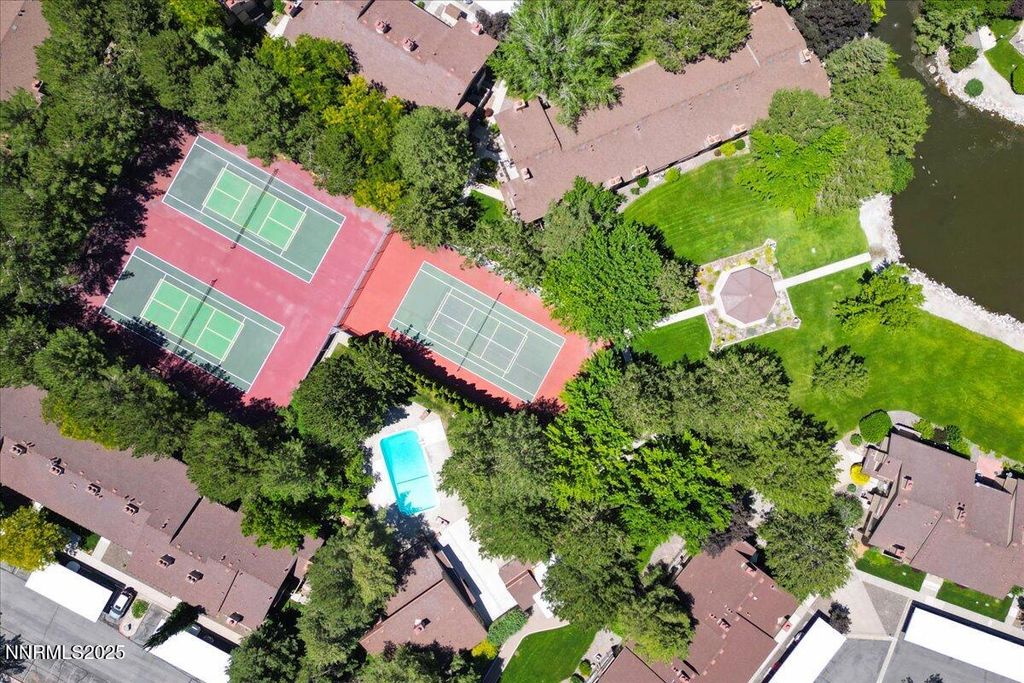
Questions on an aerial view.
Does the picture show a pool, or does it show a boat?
pool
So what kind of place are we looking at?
residential area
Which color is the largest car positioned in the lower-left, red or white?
white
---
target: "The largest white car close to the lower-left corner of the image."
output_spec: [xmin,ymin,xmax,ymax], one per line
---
[107,588,133,622]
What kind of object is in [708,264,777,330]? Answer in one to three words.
gazebo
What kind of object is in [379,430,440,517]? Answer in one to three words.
swimming pool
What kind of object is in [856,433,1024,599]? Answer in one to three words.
house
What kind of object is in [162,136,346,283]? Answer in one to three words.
tennis court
